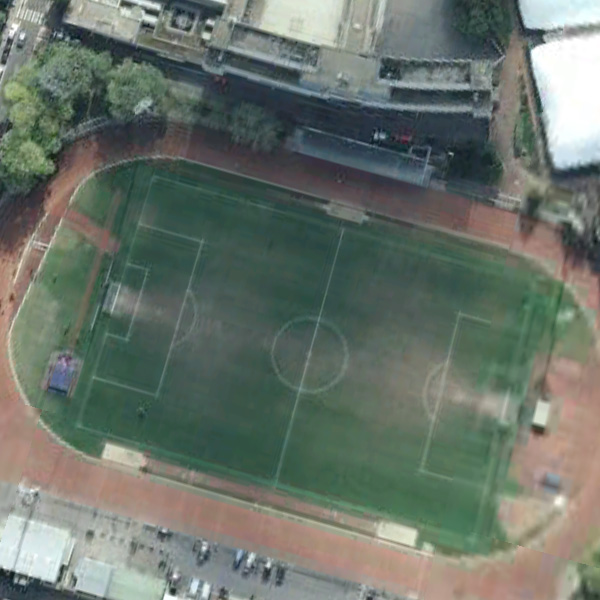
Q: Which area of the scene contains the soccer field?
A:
center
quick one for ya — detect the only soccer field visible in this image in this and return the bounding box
[63,155,562,551]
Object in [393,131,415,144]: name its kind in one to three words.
vehicle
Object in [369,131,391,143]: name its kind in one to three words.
vehicle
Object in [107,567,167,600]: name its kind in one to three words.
shed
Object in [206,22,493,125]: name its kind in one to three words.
building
